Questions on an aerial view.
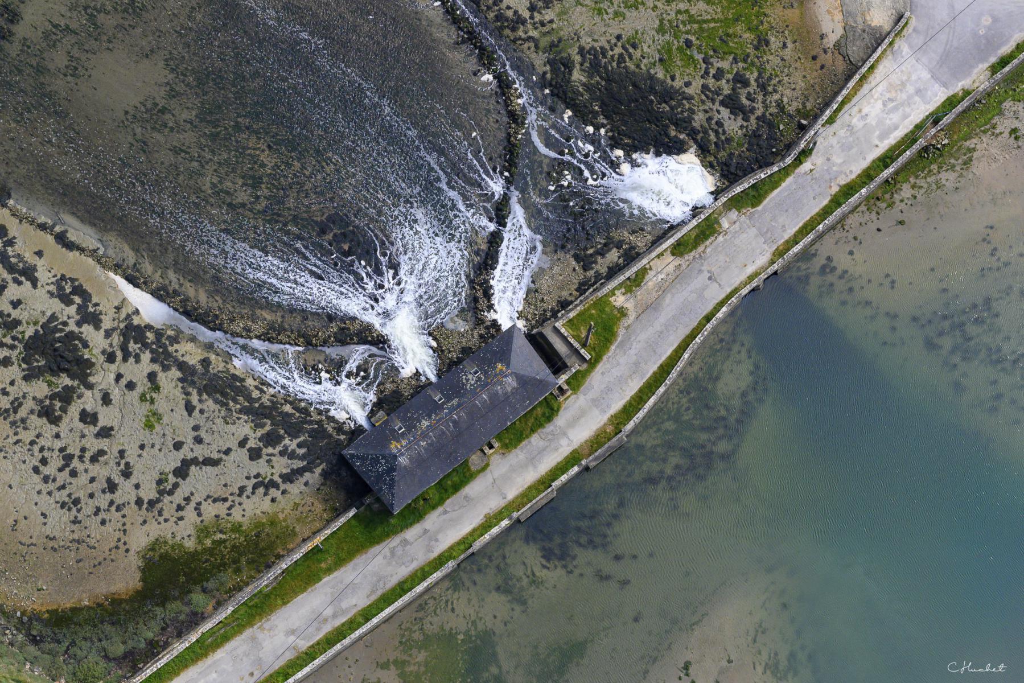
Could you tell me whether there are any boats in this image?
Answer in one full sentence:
No, there isn't any boat down there.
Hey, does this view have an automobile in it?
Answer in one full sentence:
No, the photo shows no automobile.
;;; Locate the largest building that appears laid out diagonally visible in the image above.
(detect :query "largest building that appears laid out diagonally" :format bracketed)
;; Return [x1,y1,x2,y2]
[341,325,558,514]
